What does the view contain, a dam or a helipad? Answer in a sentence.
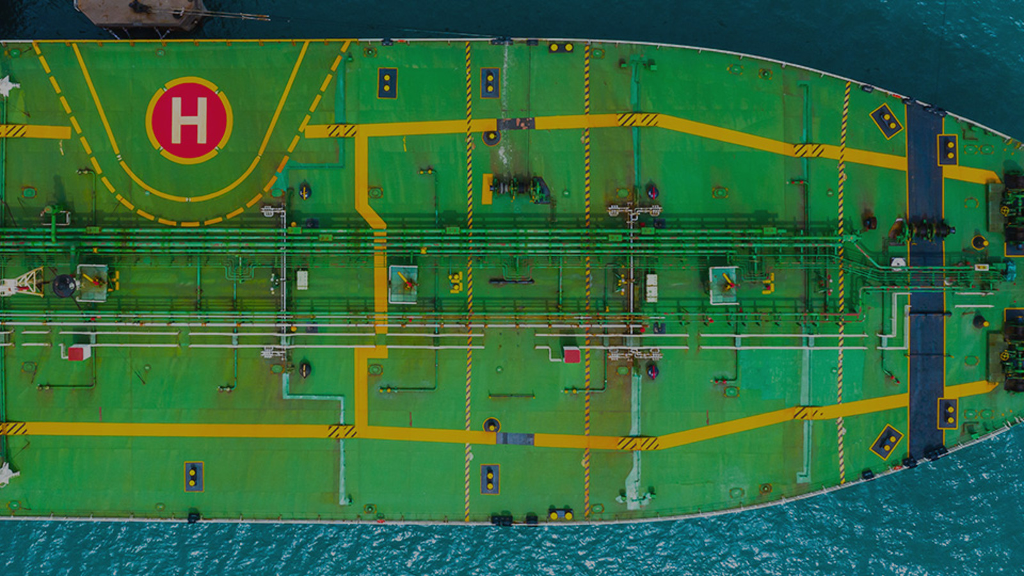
This aerial view contains a helipad.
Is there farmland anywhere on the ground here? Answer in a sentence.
No, the picture contains no farmland.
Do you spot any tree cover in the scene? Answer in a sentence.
No, the scene doesn't show any tree cover.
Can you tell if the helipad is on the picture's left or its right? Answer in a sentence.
The helipad appears in the left half of the scene.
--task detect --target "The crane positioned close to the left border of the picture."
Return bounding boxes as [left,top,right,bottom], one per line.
[0,266,50,297]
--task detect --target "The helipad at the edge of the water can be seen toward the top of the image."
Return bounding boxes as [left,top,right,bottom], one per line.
[32,43,348,227]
